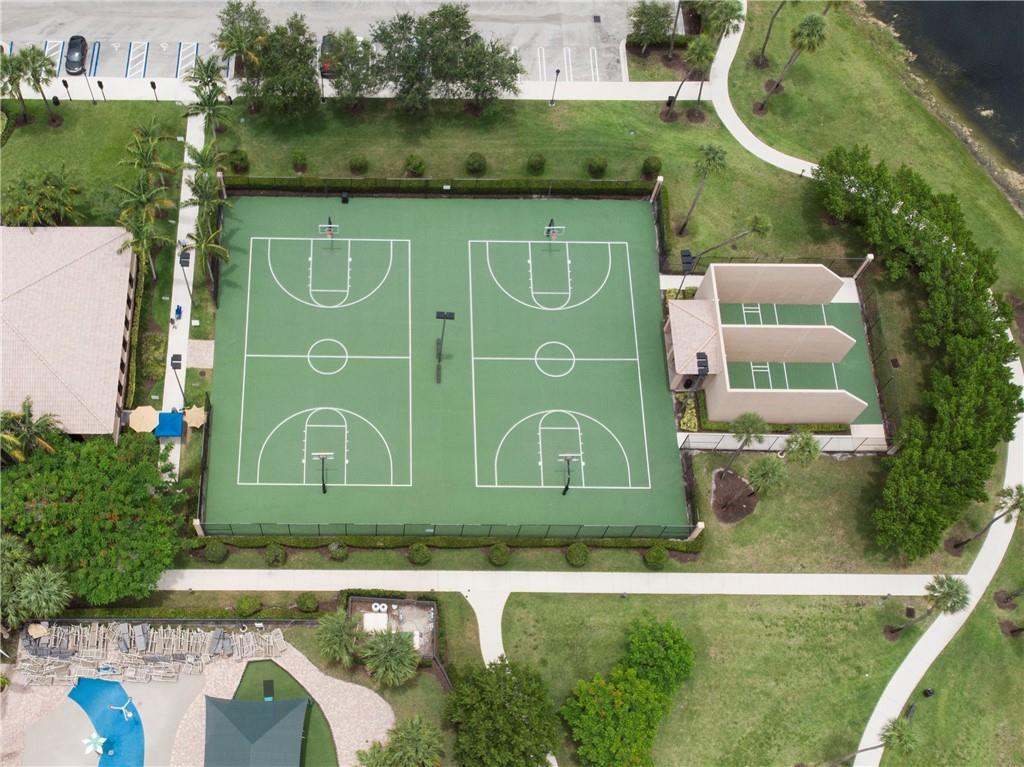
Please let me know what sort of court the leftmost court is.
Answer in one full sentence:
The leftmost court in the image is a basketball court.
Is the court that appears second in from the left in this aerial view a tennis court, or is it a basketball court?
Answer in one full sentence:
In the photo, the court that appears second in from the left shows up as a basketball court.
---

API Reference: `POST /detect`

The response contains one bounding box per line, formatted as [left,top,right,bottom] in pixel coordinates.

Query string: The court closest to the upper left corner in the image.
[203,195,435,534]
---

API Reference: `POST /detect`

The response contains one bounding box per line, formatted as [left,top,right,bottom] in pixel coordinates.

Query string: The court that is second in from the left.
[431,197,690,535]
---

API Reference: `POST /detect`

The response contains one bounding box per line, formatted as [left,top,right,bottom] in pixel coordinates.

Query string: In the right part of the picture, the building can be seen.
[662,299,715,390]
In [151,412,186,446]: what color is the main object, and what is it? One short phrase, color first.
blue tent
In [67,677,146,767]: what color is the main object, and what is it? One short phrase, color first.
blue swimming pool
